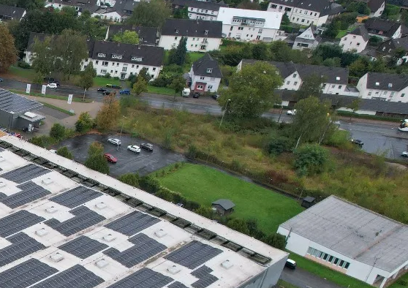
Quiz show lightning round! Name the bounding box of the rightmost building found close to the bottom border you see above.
[273,195,408,288]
